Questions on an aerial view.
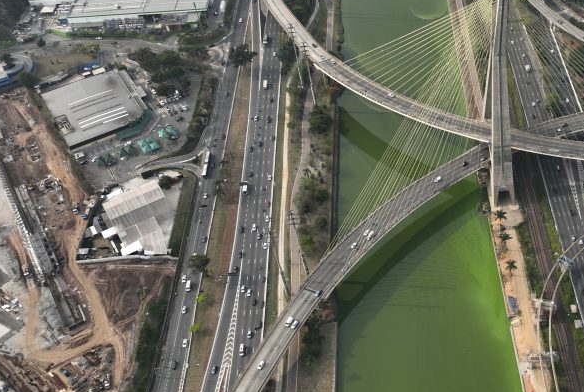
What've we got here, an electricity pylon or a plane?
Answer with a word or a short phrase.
electricity pylon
